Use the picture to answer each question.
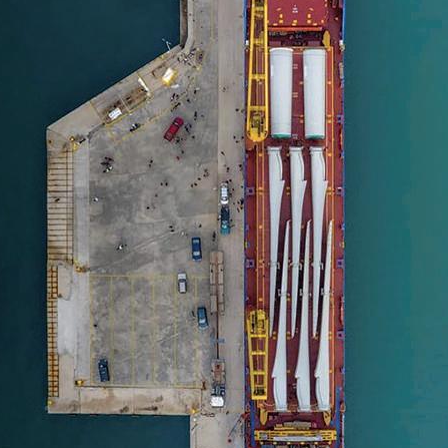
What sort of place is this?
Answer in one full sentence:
This image shows a port.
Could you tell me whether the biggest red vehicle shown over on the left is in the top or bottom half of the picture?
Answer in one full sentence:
The top half of the photo is where the biggest red vehicle shown over on the left is.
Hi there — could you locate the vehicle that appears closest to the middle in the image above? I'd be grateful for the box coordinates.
[219,206,231,234]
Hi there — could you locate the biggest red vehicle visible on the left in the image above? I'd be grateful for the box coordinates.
[163,116,183,142]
